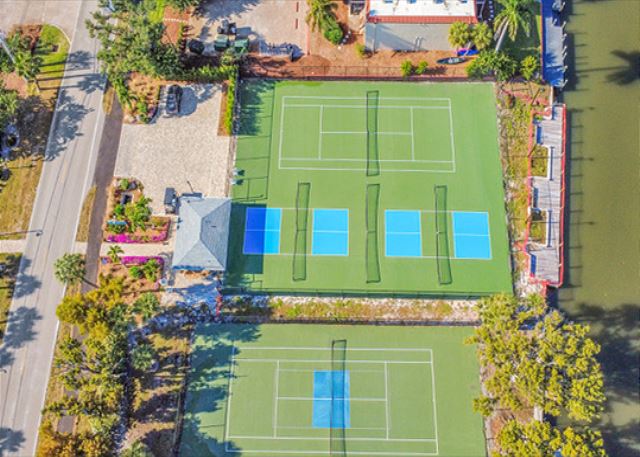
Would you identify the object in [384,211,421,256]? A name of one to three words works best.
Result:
sports court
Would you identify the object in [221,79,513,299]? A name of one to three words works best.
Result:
tennis court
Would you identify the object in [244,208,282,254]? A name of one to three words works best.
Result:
sports court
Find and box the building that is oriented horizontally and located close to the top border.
[360,0,475,56]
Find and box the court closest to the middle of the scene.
[312,209,349,255]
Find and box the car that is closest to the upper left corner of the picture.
[161,84,181,114]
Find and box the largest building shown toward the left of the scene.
[171,197,234,271]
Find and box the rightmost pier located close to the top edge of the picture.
[542,0,564,86]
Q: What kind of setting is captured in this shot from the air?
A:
sports ground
